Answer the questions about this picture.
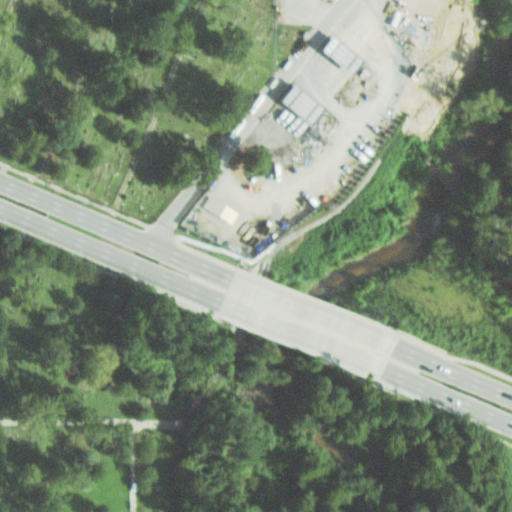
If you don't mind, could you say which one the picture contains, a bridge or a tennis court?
bridge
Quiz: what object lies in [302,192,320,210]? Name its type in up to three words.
vehicle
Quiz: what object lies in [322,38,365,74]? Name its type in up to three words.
shed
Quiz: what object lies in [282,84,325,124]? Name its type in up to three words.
shed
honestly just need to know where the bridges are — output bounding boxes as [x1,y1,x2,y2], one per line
[220,264,410,390]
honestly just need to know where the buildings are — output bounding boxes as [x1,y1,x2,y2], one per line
[282,84,325,124]
[322,38,365,74]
